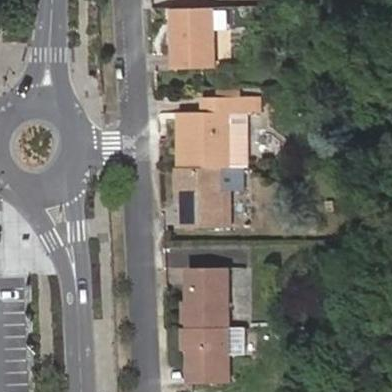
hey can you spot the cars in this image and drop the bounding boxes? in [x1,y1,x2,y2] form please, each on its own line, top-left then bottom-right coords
[16,76,33,98]
[114,58,125,80]
[0,290,20,300]
[78,281,88,302]
[166,370,183,382]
